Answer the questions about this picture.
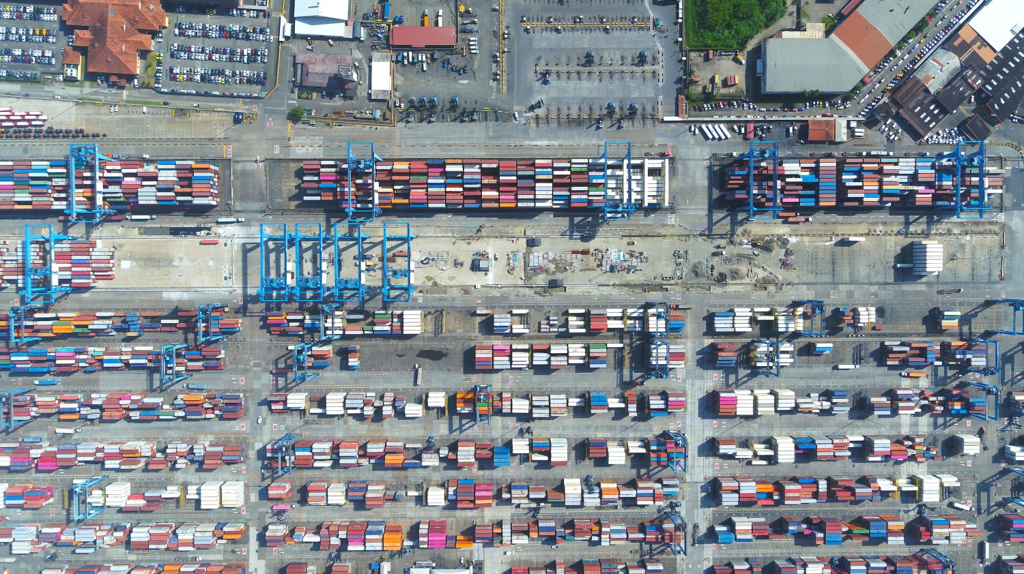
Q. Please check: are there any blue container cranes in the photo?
Yes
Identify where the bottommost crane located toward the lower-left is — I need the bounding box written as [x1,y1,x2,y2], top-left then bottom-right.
[74,473,107,520]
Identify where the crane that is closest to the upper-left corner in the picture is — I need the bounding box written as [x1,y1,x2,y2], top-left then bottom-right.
[70,141,121,222]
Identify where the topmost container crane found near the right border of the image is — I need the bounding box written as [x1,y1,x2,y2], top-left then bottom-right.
[932,140,989,218]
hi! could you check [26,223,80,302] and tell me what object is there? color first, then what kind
blue container crane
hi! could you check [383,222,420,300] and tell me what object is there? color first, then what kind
blue container crane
